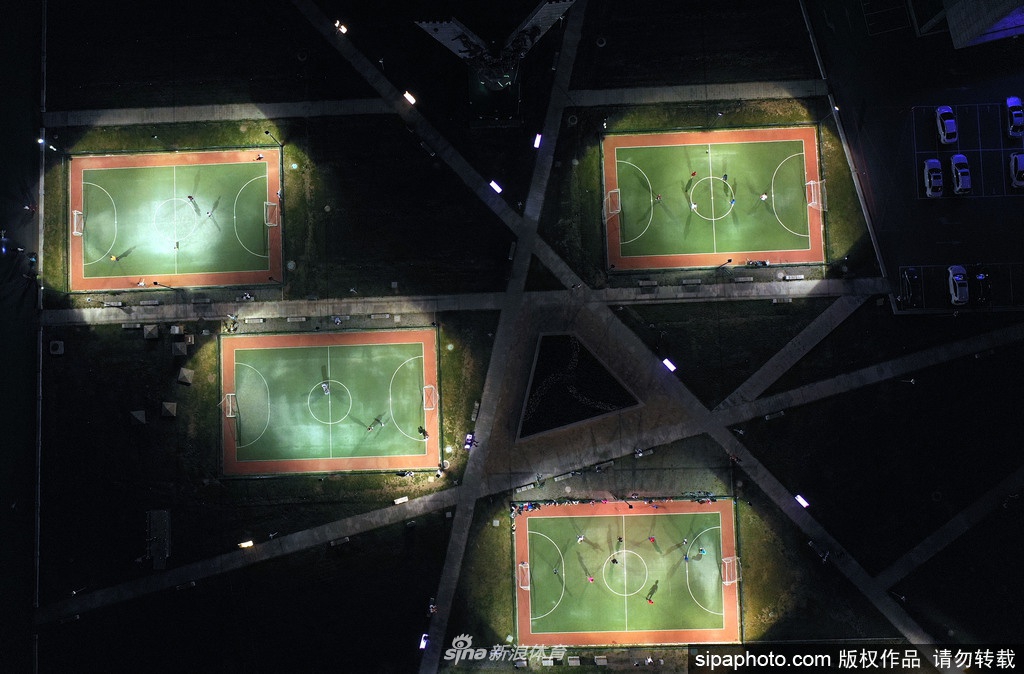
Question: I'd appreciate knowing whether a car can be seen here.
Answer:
Yes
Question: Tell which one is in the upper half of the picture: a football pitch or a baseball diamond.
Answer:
football pitch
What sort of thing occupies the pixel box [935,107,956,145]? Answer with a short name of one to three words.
car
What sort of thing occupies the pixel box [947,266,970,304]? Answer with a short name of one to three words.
car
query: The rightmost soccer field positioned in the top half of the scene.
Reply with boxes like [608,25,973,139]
[603,127,823,269]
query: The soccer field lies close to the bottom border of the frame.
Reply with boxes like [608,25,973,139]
[514,499,740,647]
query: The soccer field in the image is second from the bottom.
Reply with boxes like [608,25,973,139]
[222,330,439,474]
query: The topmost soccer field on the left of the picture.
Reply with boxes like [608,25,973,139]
[71,150,281,290]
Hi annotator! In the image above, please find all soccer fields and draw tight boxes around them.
[603,127,823,269]
[222,330,439,474]
[71,150,281,290]
[514,499,740,647]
